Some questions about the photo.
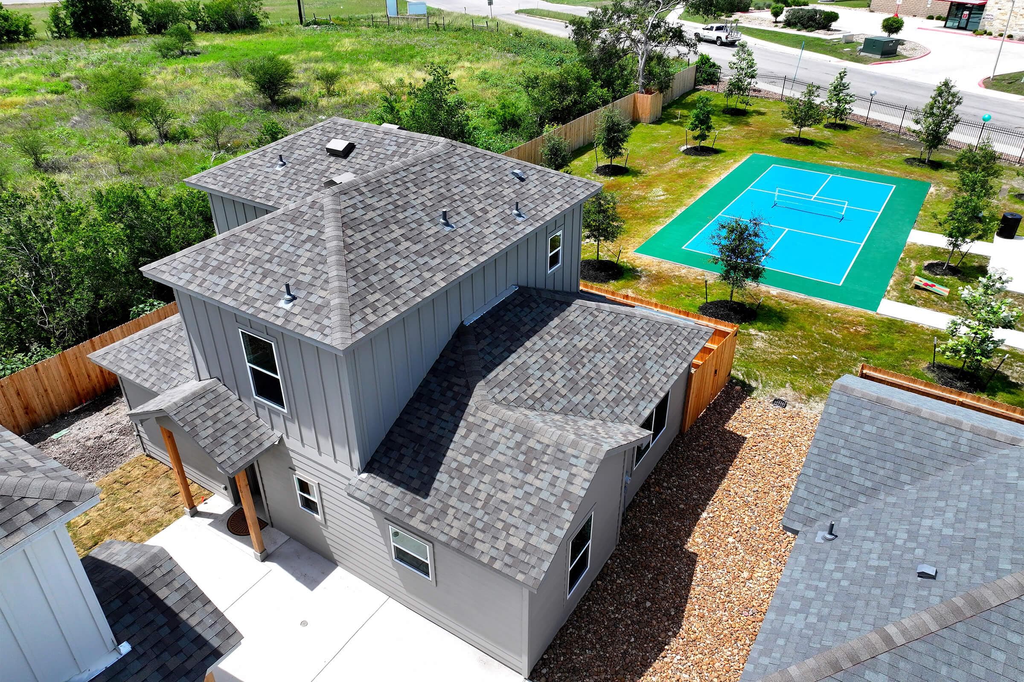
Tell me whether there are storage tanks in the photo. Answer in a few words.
No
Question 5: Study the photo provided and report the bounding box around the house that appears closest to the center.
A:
[86,116,717,682]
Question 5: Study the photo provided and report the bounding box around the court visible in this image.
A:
[630,154,932,316]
